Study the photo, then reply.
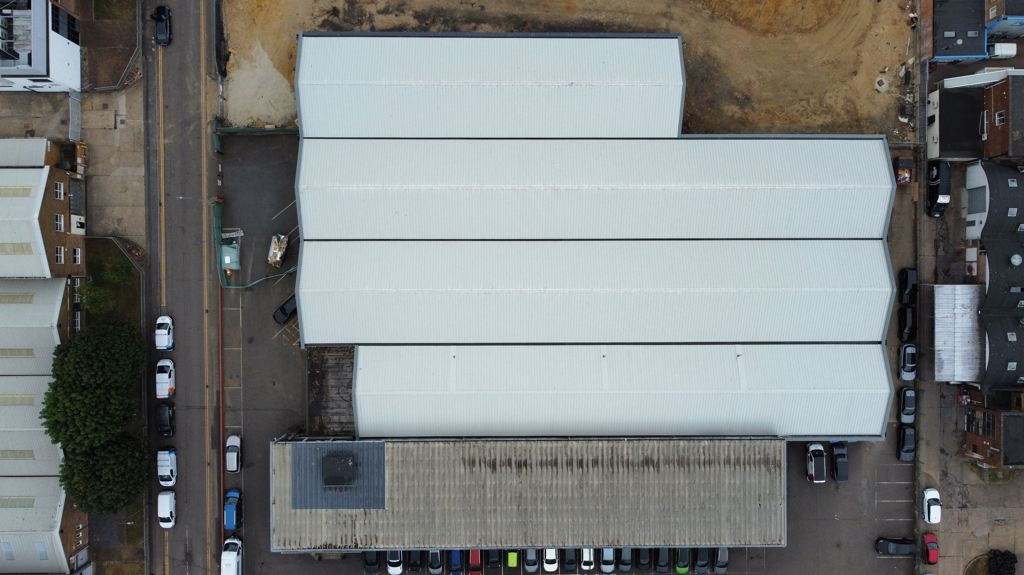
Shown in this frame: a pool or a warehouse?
warehouse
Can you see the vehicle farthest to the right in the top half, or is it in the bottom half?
top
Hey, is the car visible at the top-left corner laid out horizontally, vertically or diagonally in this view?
vertically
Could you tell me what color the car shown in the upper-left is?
black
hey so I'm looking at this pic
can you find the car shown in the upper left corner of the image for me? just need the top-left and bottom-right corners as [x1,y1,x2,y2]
[155,6,176,46]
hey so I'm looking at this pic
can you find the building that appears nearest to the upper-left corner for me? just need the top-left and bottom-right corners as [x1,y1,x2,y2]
[0,0,81,94]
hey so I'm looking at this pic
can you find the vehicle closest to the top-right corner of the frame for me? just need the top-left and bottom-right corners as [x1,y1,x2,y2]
[980,40,1023,60]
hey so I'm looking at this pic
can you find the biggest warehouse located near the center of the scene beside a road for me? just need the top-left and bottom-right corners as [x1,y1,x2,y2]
[295,31,896,440]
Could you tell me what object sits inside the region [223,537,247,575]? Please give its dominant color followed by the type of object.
white vehicle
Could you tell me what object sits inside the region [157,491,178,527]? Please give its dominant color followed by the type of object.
white vehicle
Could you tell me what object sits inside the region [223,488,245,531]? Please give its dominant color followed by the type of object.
blue car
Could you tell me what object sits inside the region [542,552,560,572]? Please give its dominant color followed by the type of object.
white car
